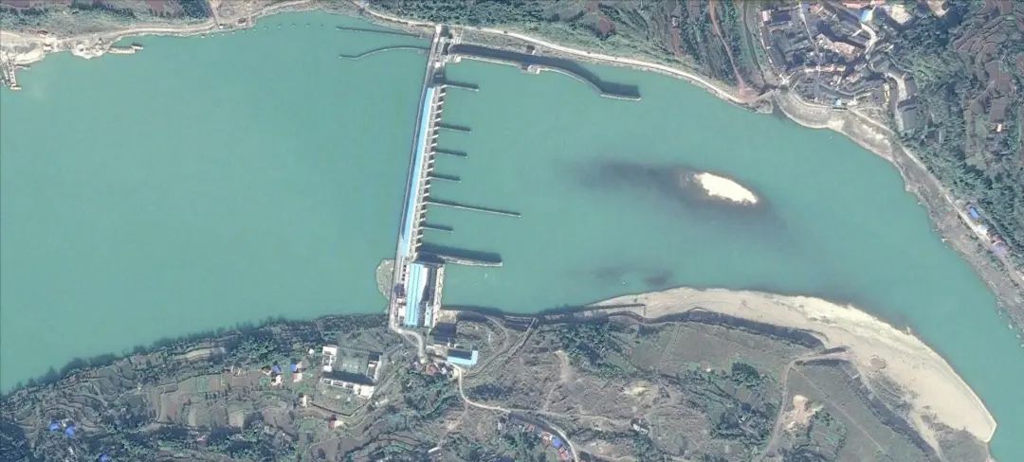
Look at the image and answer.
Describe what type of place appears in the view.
port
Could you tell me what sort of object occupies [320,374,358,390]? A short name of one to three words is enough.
building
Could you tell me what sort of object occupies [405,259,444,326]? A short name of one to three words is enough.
building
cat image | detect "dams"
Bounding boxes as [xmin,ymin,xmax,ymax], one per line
[389,16,521,327]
